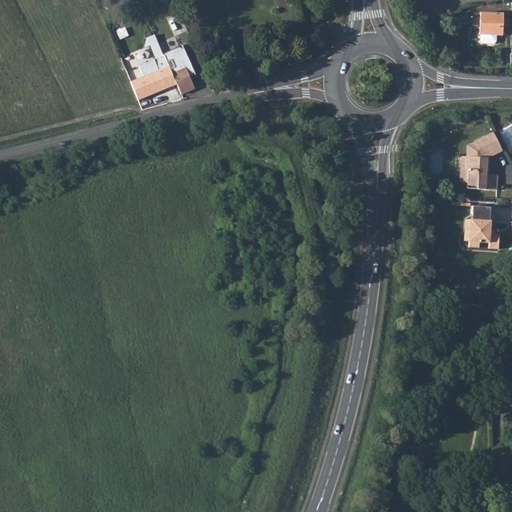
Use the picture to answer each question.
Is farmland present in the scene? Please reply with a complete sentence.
Yes, farmland can be seen from above here.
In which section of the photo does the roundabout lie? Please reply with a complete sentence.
The roundabout is in the top right part of the image.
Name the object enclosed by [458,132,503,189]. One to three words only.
house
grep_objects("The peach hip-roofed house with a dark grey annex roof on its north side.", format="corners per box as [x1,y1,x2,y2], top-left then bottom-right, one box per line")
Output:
[464,206,500,251]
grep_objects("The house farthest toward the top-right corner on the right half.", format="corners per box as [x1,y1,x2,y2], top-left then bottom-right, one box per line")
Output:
[480,11,504,45]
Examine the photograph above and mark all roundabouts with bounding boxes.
[246,0,512,188]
